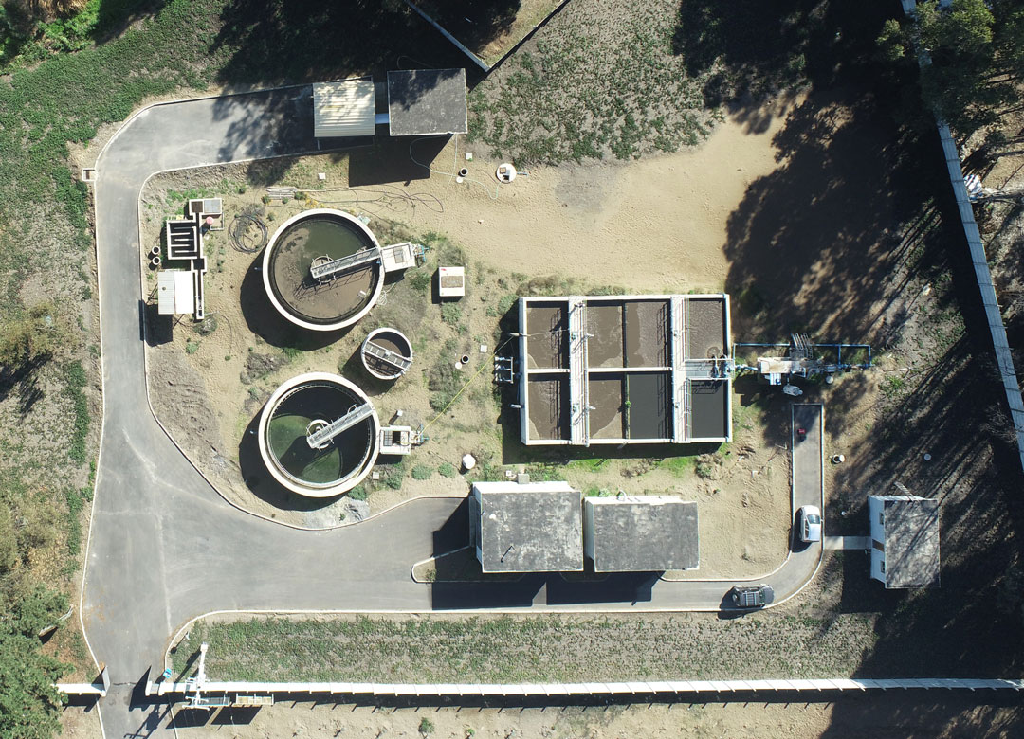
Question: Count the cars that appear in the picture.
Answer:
2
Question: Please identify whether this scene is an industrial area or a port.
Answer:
industrial area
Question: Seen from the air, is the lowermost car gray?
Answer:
Yes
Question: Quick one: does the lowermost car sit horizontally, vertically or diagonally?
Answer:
horizontally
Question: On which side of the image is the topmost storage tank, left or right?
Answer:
left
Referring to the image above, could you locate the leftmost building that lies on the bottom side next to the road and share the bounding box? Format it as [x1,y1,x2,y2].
[474,483,583,575]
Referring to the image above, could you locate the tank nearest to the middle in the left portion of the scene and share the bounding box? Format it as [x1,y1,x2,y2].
[360,327,413,379]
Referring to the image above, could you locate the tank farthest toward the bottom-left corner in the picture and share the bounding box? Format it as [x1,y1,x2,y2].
[258,372,381,496]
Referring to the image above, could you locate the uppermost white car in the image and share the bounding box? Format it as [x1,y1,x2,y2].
[797,504,821,543]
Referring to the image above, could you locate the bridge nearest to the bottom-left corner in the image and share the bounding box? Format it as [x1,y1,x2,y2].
[308,402,375,449]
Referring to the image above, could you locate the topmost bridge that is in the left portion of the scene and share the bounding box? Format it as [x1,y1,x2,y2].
[311,245,382,277]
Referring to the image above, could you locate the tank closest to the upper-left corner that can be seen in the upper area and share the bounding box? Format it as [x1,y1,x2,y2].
[263,209,384,330]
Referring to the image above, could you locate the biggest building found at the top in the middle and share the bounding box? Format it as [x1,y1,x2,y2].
[385,67,467,140]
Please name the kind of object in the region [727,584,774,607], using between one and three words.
car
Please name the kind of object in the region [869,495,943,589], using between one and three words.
building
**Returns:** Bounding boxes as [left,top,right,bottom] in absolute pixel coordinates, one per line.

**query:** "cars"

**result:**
[727,584,774,607]
[797,504,821,543]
